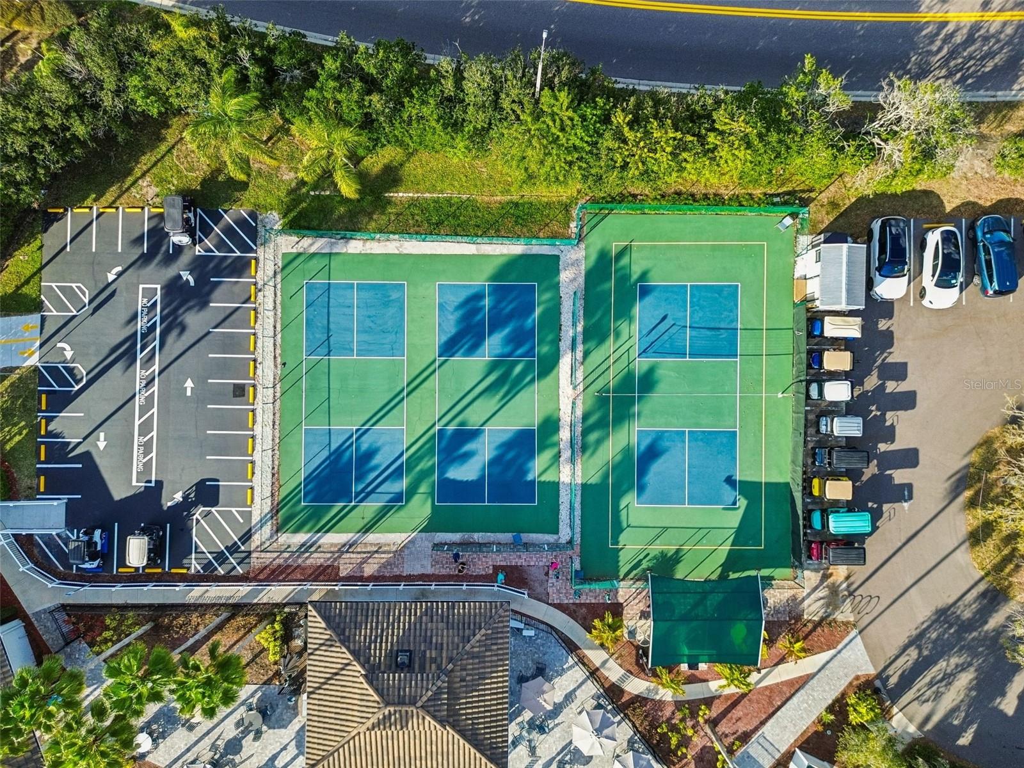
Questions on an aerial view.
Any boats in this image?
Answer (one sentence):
No, the photo shows no boat.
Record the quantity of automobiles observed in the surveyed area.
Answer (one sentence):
The photo contains 3 automobiles.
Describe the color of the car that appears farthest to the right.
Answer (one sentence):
From above, the car that appears farthest to the right appears blue.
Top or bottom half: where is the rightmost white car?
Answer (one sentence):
The rightmost white car is in the top half of the image.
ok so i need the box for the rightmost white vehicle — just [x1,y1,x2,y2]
[919,227,966,309]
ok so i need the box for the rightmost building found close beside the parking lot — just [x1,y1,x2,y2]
[304,600,512,768]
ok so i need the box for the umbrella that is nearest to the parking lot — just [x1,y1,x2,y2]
[280,647,306,675]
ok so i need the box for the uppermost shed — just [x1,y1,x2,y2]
[804,241,866,310]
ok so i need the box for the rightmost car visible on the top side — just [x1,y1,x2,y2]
[968,217,1017,298]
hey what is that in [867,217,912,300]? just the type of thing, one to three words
car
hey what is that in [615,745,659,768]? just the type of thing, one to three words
umbrella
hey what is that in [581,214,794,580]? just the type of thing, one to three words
sports court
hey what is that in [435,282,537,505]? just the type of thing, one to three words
sports court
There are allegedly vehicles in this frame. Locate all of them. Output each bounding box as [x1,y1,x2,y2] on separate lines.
[163,194,198,243]
[968,217,1017,298]
[808,475,852,501]
[867,217,912,300]
[815,412,863,438]
[126,521,163,568]
[807,348,857,374]
[806,536,866,564]
[811,444,869,470]
[67,523,106,568]
[808,315,862,341]
[807,378,855,404]
[919,227,966,309]
[808,507,871,534]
